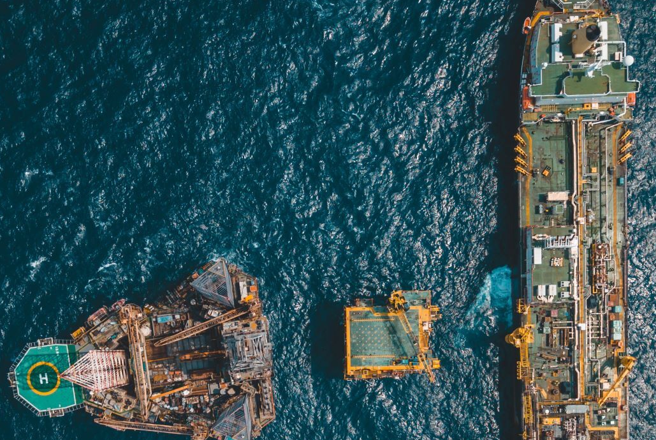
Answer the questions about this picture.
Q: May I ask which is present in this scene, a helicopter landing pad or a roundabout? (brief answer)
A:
helicopter landing pad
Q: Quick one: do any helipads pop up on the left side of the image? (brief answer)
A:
Yes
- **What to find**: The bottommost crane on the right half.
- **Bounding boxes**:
[597,354,646,406]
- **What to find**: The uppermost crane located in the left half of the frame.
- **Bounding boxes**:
[154,294,268,347]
